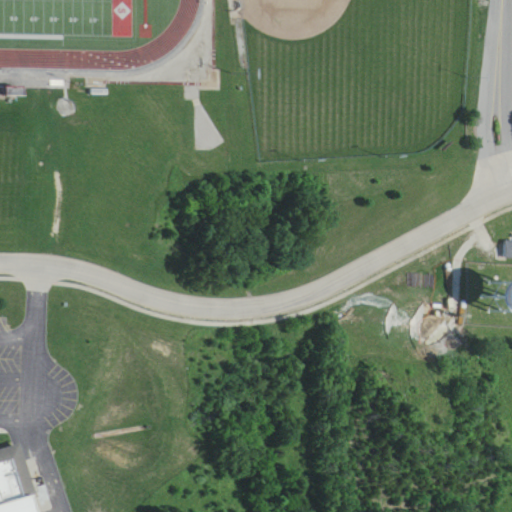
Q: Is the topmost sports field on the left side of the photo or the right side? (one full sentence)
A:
The topmost sports field sits on the left side.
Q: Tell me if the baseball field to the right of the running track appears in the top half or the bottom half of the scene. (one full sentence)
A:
The baseball field to the right of the running track is in the top half of the image.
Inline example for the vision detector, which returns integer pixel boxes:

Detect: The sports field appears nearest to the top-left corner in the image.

[0,0,180,49]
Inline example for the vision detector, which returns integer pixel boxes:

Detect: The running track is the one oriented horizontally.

[0,0,204,72]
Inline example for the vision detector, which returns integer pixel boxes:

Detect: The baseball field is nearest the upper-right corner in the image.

[236,0,472,160]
